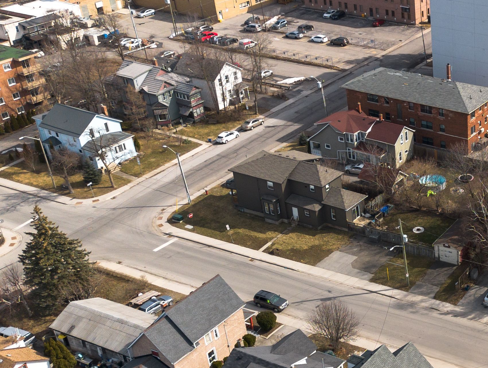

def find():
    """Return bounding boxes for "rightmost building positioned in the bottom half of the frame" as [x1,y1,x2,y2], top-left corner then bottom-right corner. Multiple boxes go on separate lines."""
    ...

[434,221,469,264]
